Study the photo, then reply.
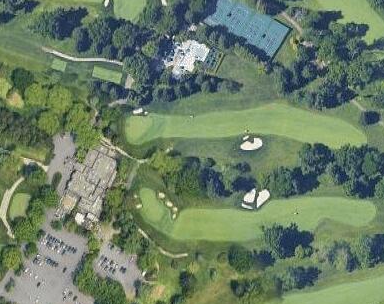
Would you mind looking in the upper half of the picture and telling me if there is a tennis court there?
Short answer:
Yes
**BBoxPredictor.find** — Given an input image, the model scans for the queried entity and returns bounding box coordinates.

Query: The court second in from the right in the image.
[242,11,274,52]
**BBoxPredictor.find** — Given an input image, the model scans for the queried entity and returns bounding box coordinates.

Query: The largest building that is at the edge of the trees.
[57,146,124,218]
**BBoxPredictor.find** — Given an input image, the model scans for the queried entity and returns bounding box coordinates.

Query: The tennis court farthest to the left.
[207,0,239,35]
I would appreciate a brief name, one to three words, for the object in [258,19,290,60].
tennis court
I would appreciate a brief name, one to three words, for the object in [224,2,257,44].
tennis court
